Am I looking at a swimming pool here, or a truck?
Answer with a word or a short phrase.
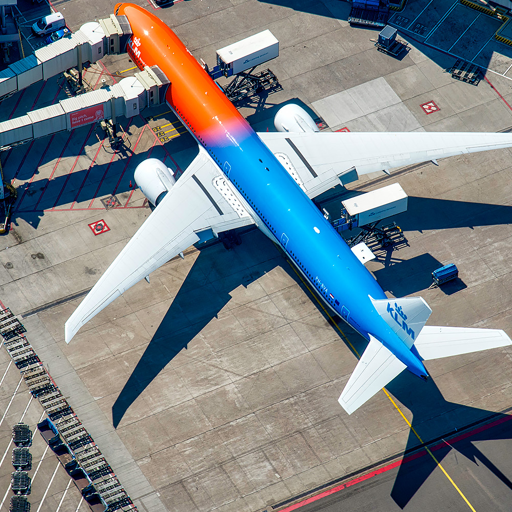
truck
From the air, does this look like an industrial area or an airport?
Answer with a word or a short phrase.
airport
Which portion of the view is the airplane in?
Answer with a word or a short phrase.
center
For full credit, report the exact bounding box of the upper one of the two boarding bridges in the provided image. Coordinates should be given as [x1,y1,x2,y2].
[0,11,138,105]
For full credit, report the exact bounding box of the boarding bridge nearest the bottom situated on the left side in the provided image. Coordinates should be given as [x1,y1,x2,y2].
[0,64,172,156]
